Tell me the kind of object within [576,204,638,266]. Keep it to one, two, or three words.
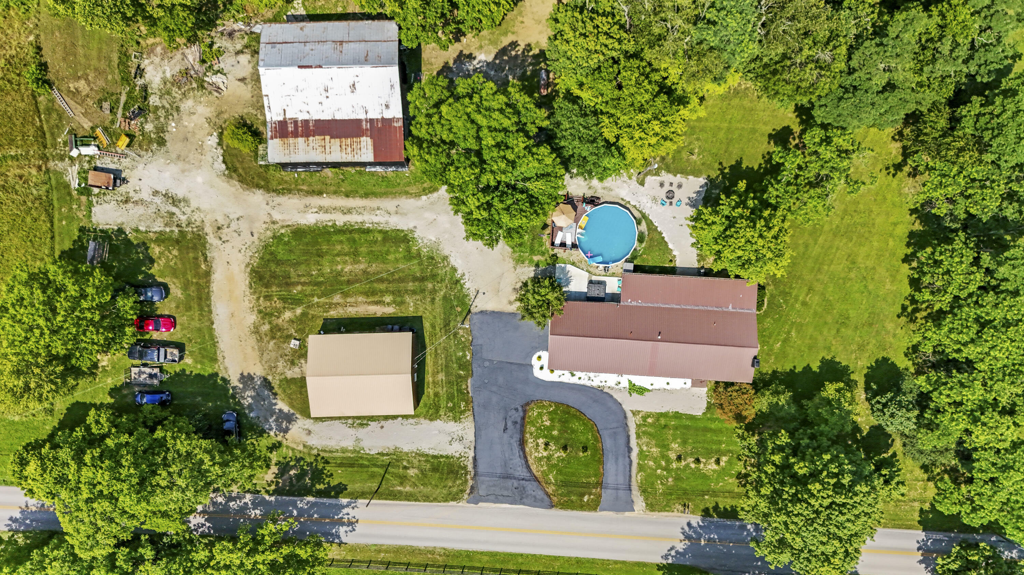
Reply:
swimming pool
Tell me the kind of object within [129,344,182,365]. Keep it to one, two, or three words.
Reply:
truck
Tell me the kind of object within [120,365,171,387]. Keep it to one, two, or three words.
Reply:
trailer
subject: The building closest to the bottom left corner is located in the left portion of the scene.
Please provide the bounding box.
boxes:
[306,332,417,418]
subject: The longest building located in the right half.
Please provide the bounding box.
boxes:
[548,272,761,384]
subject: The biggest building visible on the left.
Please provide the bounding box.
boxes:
[258,20,408,164]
